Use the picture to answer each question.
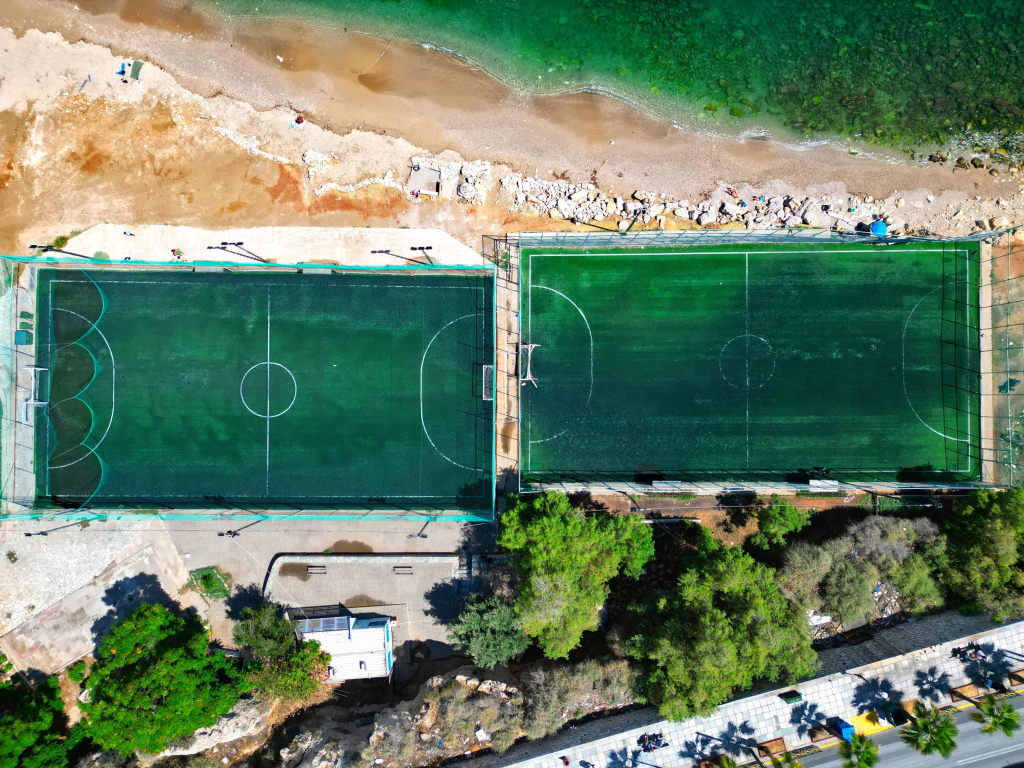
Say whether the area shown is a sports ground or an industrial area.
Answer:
sports ground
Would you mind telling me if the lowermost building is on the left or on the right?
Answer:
left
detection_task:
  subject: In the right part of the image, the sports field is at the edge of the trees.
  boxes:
[521,241,981,482]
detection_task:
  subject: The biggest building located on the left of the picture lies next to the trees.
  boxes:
[297,608,394,683]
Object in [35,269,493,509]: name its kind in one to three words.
sports field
